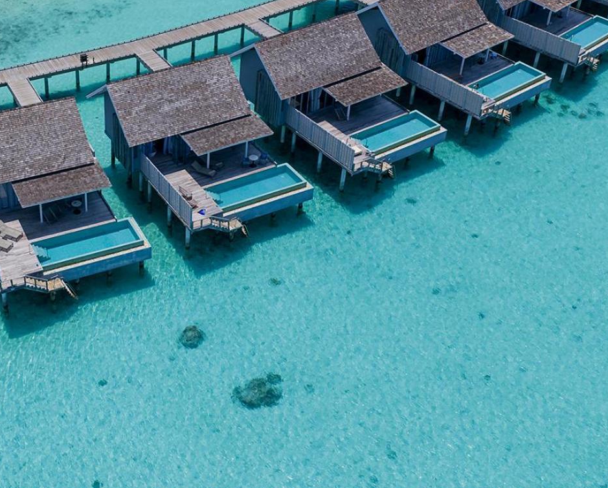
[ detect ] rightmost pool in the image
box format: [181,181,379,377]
[554,15,608,58]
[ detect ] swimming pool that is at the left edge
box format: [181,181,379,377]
[28,217,150,282]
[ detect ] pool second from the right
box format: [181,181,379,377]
[463,61,551,111]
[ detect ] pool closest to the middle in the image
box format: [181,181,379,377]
[200,162,313,222]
